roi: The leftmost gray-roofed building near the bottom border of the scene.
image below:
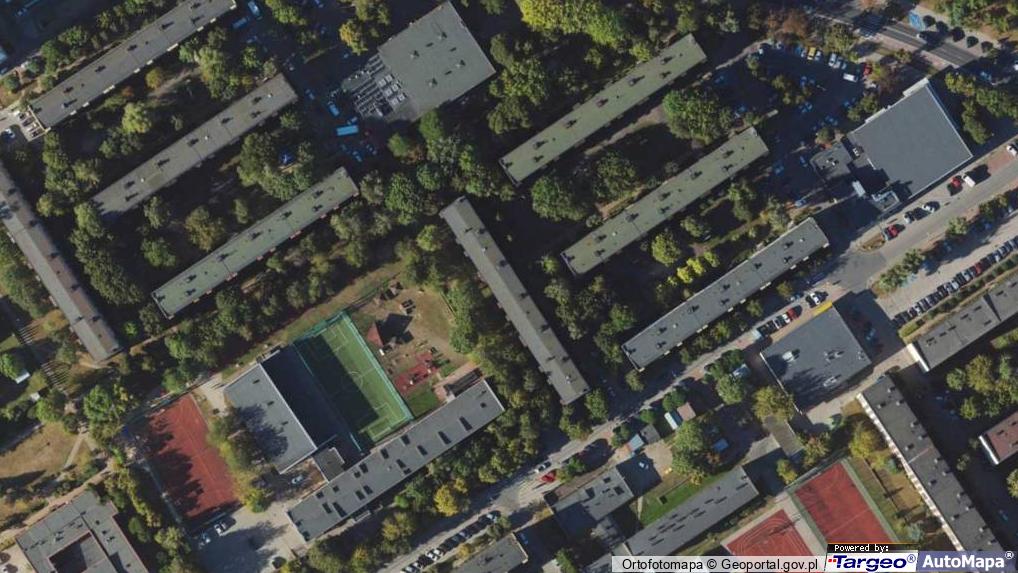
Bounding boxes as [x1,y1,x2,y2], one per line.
[15,491,150,573]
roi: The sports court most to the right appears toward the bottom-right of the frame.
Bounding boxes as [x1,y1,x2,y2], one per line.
[791,459,910,573]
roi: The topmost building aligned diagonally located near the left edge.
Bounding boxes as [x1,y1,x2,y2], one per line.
[29,0,241,131]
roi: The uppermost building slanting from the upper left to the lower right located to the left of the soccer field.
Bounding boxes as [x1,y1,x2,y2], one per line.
[0,171,122,364]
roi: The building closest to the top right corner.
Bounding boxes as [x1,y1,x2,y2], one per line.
[807,78,972,211]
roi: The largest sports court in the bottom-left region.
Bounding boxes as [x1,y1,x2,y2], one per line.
[138,394,240,526]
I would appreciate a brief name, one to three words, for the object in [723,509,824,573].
sports court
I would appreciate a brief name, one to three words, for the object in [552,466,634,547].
building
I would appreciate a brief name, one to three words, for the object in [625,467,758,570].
building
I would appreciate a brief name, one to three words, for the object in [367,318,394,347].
shed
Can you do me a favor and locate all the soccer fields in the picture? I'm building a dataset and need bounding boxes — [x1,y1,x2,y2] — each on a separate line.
[290,311,416,452]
